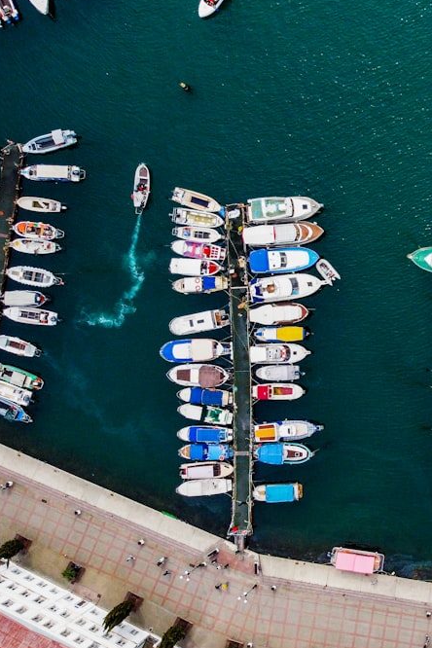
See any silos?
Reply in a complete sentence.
No, no silo is visible in the view.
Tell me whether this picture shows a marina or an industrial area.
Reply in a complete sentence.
This image shows a marina.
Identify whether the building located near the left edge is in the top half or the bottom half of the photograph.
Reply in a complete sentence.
The bottom half of the photo is where the building located near the left edge is.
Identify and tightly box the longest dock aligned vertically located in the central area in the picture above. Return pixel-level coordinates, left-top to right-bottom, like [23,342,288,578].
[224,204,257,534]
